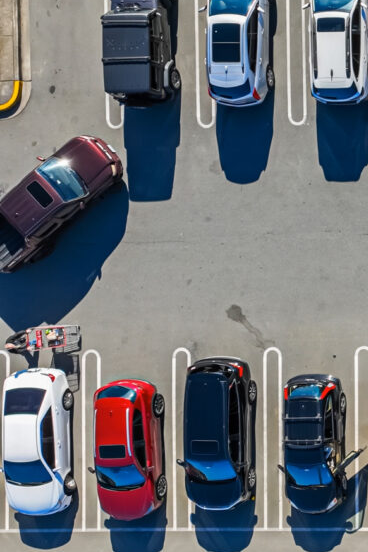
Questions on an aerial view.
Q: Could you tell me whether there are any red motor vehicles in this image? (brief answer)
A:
Yes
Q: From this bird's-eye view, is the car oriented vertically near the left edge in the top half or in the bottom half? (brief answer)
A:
bottom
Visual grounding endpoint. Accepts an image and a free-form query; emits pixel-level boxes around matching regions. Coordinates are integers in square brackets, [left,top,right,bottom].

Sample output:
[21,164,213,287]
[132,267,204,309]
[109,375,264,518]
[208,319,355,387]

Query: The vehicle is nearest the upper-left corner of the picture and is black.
[102,0,179,105]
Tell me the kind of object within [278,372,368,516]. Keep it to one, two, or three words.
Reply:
car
